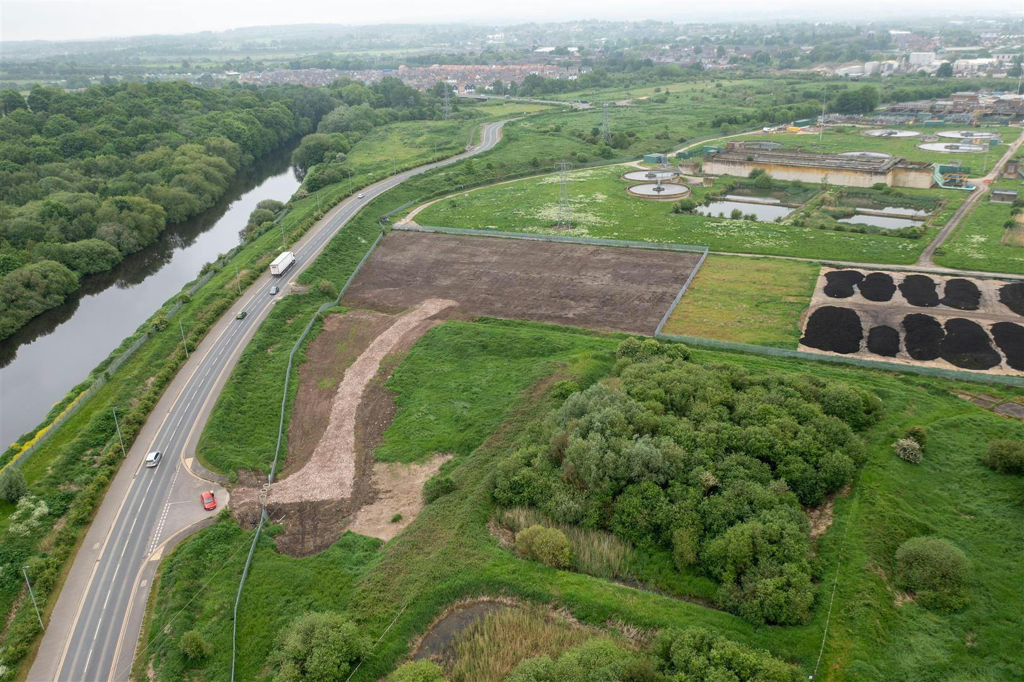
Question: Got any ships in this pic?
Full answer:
No, the frame has no ship in it.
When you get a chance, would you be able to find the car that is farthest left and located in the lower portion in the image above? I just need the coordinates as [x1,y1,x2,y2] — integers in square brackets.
[143,450,161,466]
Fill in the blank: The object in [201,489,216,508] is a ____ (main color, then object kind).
red car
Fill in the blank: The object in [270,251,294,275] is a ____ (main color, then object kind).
white truck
